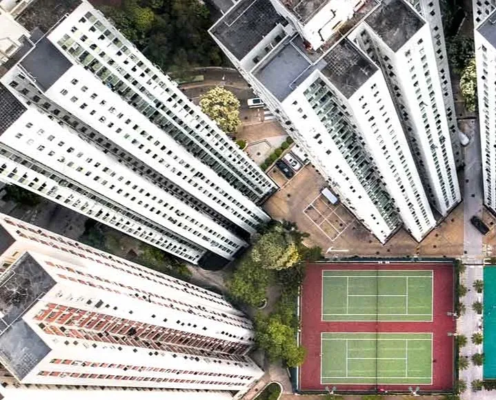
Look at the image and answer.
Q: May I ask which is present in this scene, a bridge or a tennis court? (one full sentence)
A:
Visible in the photo is a tennis court.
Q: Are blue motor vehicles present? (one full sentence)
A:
No, I find no blue motor vehicle anywhere in the image.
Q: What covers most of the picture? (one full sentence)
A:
The bulk of the photo consists of buildings.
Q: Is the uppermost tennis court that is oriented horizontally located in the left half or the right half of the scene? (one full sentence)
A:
You can find the uppermost tennis court that is oriented horizontally on the right side of the picture.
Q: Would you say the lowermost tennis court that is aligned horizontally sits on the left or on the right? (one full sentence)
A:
It is on the right.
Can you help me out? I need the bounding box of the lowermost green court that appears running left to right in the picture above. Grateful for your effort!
[301,327,455,393]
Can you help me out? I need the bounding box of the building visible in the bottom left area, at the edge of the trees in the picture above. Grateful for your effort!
[0,217,268,400]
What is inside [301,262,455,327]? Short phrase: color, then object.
green tennis court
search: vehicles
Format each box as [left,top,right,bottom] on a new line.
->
[276,160,295,179]
[245,97,268,109]
[285,153,303,173]
[320,186,341,207]
[470,216,490,235]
